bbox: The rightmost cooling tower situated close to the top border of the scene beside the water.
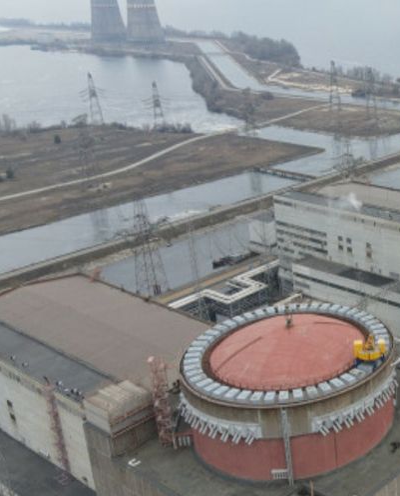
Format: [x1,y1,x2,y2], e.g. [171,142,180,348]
[123,0,168,42]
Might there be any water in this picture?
Yes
